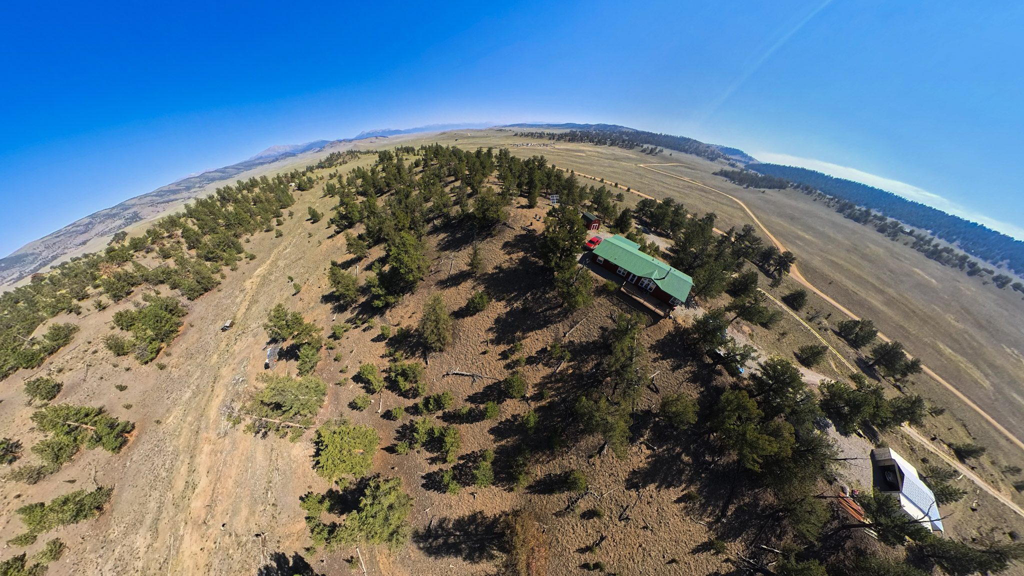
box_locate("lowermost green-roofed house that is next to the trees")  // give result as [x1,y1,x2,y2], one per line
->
[592,238,702,327]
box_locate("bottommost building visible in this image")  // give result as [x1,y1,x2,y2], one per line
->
[867,445,946,524]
